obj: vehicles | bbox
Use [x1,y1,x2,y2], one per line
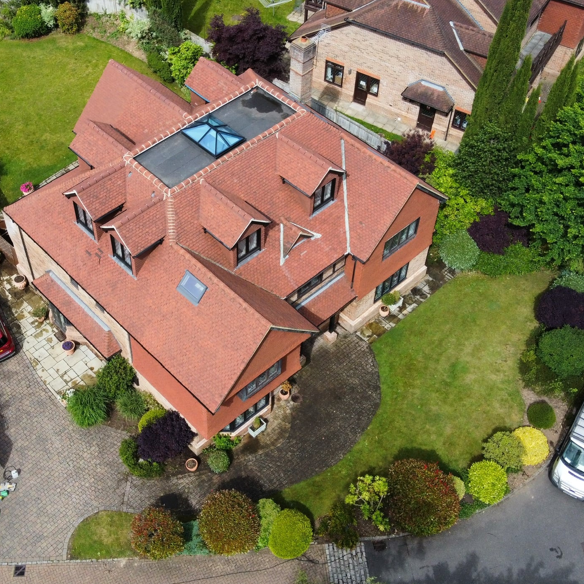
[545,401,584,514]
[0,309,18,367]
